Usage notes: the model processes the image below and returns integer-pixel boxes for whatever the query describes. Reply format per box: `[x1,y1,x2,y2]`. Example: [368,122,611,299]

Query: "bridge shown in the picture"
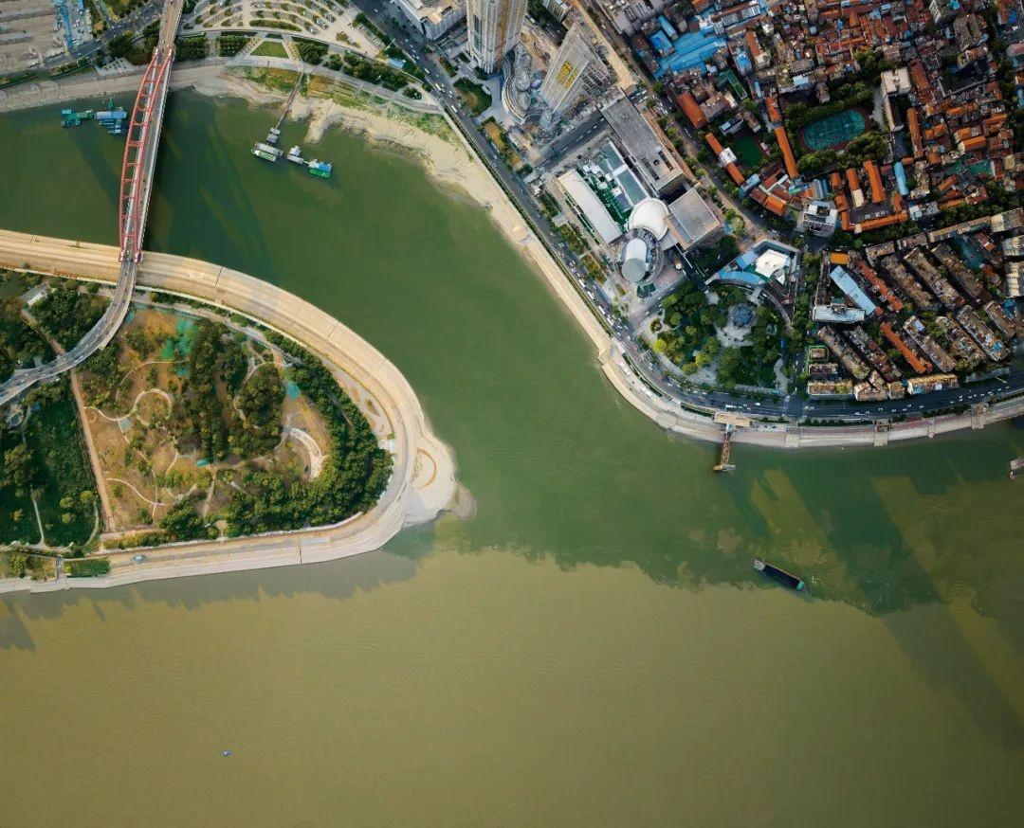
[0,0,185,407]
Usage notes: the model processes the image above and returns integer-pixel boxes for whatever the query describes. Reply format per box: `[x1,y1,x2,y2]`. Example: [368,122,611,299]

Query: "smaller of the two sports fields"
[735,132,764,168]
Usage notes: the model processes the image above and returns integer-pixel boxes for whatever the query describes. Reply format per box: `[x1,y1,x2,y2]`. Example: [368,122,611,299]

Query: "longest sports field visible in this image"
[803,109,866,150]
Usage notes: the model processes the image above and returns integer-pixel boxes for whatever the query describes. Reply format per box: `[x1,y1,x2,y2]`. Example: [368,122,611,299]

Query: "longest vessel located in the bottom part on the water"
[754,559,802,590]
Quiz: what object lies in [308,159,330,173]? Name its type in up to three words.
boat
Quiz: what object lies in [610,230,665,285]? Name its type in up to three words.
building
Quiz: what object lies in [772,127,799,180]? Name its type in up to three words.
house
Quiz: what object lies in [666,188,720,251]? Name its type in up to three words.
building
